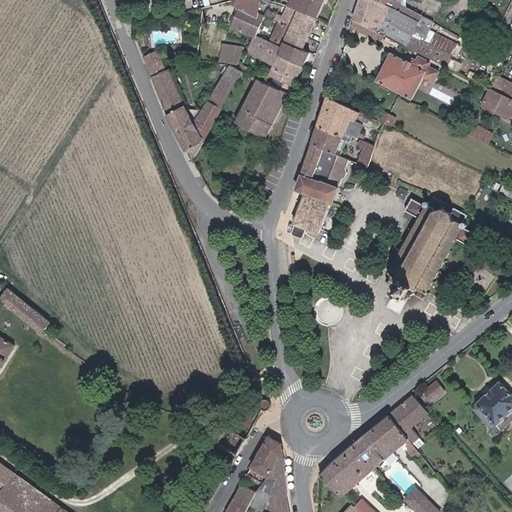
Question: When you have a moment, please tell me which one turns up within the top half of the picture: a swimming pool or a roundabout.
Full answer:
There is a swimming pool within the top half of the picture.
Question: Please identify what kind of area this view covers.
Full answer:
The picture captures a residential area.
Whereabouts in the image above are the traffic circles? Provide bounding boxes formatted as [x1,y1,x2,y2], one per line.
[281,380,362,466]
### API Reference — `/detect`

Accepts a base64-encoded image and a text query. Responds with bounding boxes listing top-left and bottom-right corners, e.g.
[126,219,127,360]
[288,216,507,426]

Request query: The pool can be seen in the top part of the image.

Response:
[150,26,181,48]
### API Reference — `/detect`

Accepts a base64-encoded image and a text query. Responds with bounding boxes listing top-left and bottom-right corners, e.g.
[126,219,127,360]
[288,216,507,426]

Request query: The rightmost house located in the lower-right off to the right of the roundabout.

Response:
[472,382,512,440]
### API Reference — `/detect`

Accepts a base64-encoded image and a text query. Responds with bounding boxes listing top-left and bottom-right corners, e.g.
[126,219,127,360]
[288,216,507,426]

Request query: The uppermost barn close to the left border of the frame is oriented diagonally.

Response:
[0,288,50,336]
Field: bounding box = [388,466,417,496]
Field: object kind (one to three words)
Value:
swimming pool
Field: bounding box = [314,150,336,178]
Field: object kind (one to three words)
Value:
house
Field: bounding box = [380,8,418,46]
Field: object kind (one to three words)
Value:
building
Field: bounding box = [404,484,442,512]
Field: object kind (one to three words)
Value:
barn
